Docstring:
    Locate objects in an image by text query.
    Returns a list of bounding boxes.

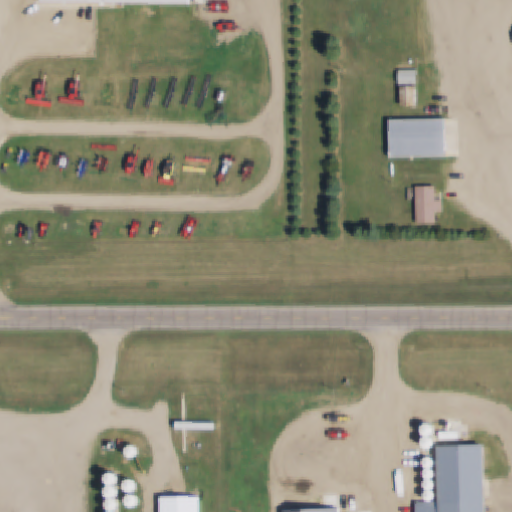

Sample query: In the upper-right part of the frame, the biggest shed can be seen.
[388,118,444,157]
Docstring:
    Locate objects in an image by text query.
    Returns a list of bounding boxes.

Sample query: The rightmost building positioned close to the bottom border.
[436,446,485,512]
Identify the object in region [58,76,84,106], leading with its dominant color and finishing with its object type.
red work vehicle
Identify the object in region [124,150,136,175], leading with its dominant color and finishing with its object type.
red vehicle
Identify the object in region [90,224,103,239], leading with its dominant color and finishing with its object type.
red vehicle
